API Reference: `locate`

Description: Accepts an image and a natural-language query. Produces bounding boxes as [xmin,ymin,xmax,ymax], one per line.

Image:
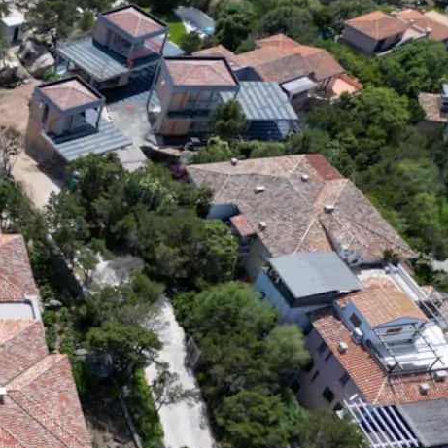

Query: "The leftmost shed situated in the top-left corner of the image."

[1,13,25,44]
